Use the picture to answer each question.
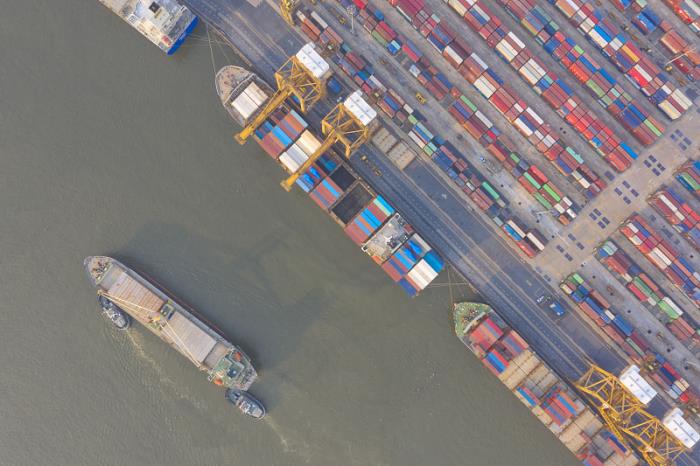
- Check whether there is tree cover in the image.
No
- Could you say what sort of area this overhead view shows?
port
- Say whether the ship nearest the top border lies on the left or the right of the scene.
left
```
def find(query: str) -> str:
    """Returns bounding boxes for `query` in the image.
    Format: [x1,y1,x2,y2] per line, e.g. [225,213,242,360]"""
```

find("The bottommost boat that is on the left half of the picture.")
[224,389,267,420]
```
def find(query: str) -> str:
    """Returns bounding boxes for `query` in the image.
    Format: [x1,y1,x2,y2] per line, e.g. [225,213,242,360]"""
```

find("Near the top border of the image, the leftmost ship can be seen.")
[99,0,205,61]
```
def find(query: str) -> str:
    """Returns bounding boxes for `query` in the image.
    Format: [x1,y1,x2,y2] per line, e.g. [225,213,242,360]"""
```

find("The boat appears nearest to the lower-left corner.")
[95,292,131,329]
